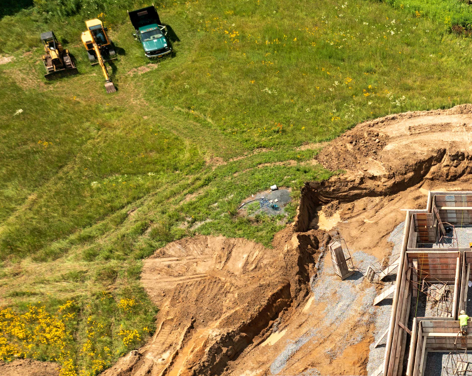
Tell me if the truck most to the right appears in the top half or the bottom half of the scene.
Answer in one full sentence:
The truck most to the right sits in the top half of the picture.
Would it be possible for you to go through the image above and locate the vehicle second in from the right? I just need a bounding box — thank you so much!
[80,18,119,89]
